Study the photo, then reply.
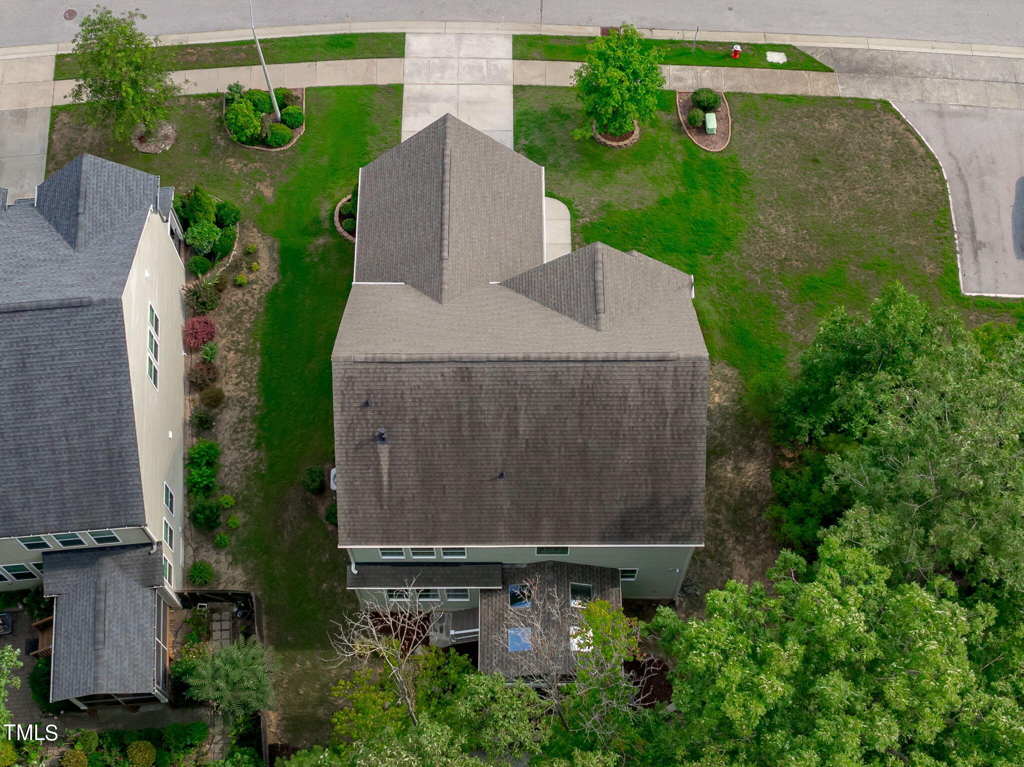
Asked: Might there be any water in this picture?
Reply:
No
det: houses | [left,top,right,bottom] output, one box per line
[332,115,713,693]
[0,150,189,713]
